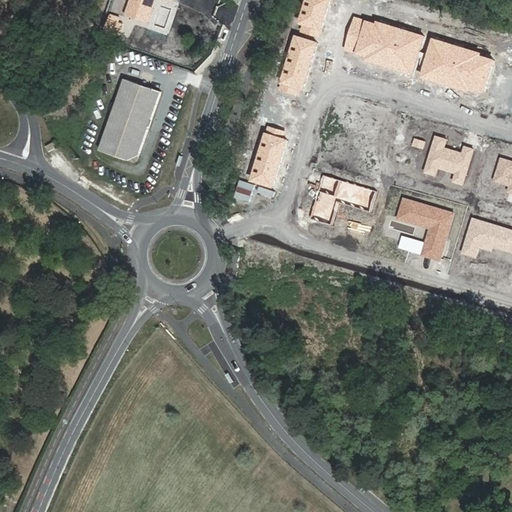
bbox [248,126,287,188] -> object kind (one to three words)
house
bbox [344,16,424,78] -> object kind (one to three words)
house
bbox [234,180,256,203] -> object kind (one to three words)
shed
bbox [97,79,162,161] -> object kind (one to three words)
building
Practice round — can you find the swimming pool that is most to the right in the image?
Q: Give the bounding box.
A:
[390,220,415,234]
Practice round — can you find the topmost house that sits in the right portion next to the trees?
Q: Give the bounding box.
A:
[297,0,330,37]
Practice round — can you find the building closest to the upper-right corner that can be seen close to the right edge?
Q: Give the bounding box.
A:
[420,38,495,93]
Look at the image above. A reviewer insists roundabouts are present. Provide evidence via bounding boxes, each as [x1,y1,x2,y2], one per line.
[112,184,223,326]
